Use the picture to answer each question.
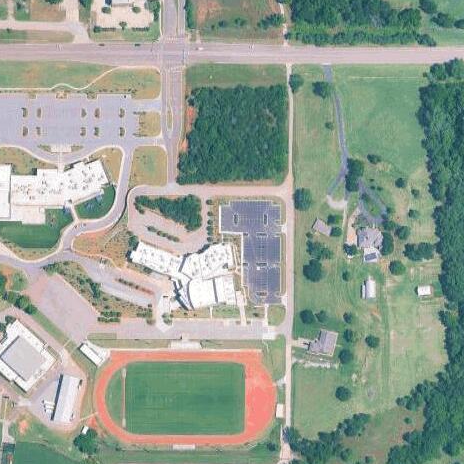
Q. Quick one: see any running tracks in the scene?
Yes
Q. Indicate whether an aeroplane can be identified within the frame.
No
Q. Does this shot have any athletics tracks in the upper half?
No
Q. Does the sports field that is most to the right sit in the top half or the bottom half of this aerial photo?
bottom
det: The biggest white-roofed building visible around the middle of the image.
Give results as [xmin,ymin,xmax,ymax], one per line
[131,241,237,311]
